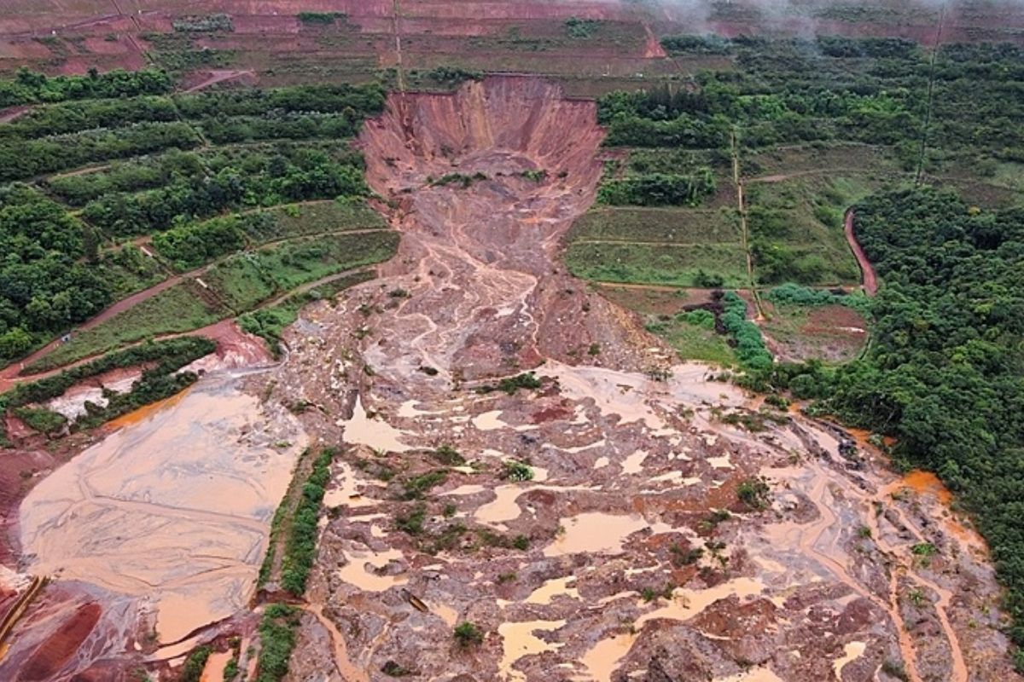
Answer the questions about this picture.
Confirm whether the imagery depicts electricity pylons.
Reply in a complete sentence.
No, no electricity pylon is visible in the scene.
